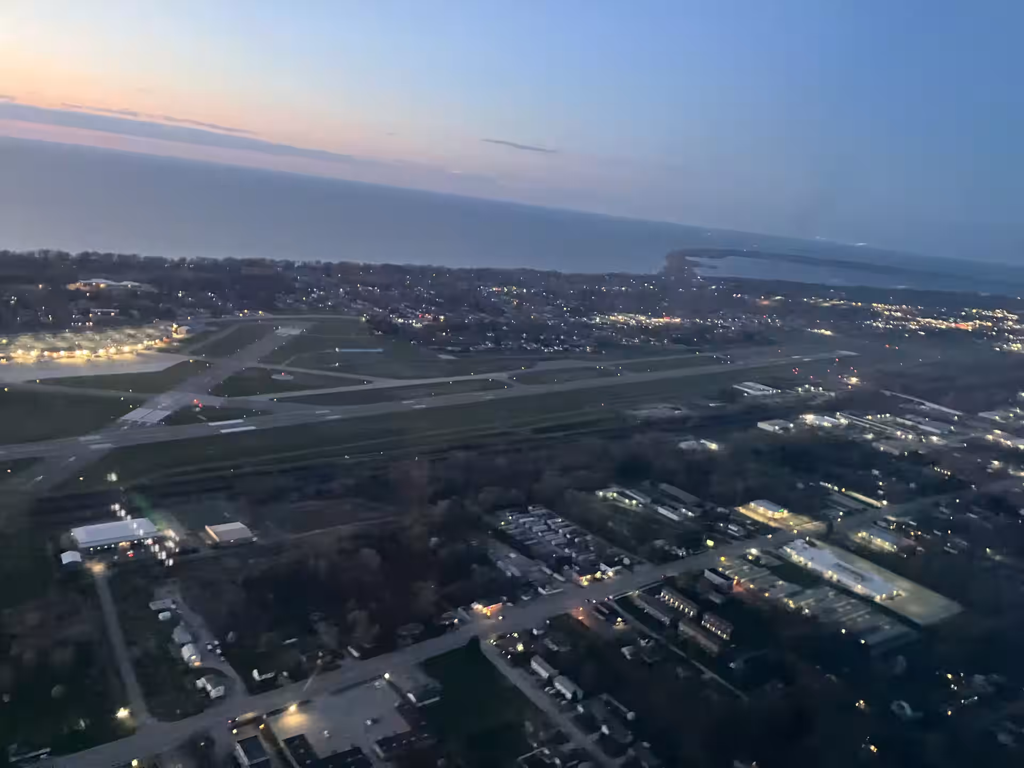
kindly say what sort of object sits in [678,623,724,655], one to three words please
building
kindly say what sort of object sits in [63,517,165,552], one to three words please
hangar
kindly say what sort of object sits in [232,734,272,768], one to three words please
building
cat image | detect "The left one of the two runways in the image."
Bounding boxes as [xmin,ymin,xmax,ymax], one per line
[0,328,304,503]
